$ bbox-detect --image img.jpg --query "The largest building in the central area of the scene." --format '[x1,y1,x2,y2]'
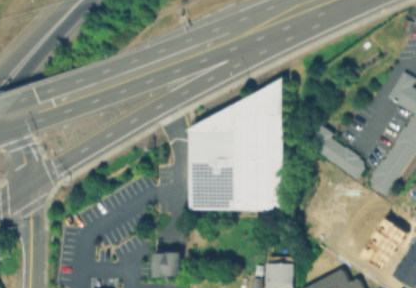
[188,78,283,211]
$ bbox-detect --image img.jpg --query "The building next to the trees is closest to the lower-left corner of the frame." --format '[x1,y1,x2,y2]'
[150,252,180,278]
